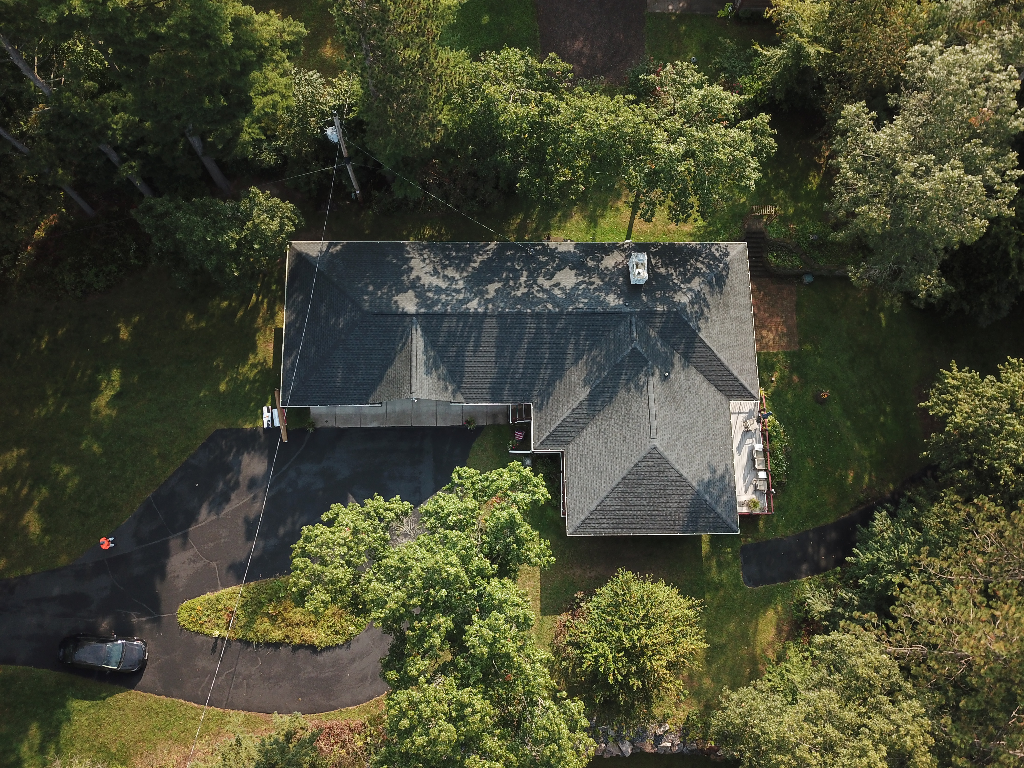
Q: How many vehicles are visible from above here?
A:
1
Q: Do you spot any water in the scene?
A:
No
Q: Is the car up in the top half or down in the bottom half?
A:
bottom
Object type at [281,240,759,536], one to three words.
house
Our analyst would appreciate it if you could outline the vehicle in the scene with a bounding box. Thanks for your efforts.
[56,630,152,677]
